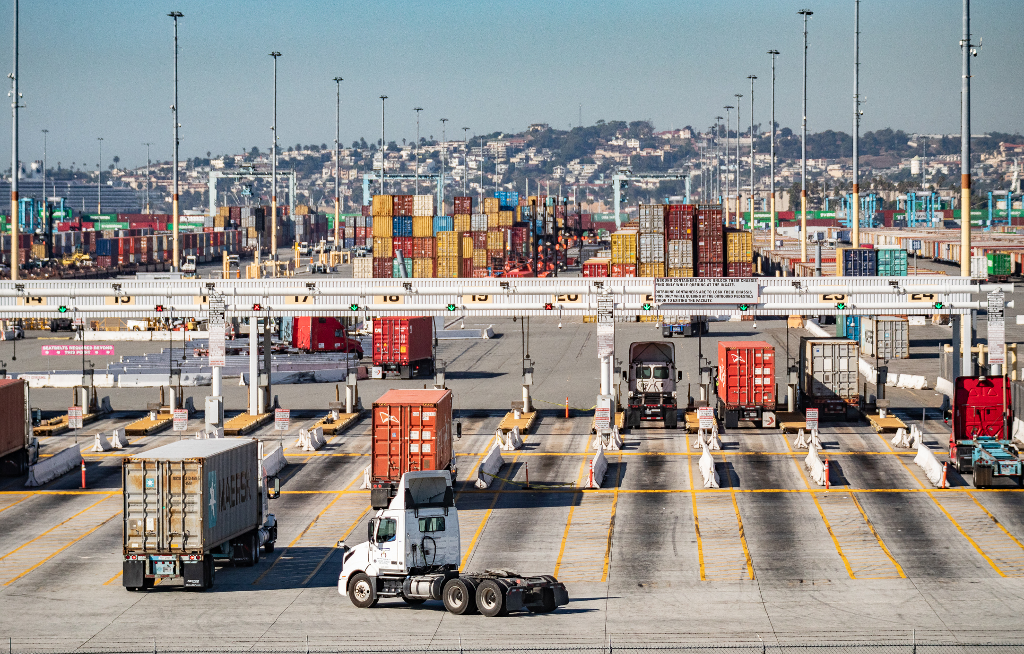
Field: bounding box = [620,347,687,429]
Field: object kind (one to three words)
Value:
truck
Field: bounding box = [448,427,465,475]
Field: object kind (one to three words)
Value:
vehicle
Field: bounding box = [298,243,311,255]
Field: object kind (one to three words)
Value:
vehicle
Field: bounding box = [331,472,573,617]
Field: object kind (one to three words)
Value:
truck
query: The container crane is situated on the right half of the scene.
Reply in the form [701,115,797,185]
[613,167,690,234]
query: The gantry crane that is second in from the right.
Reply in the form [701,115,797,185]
[364,167,445,216]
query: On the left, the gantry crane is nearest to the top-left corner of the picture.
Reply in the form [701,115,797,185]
[209,163,297,225]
